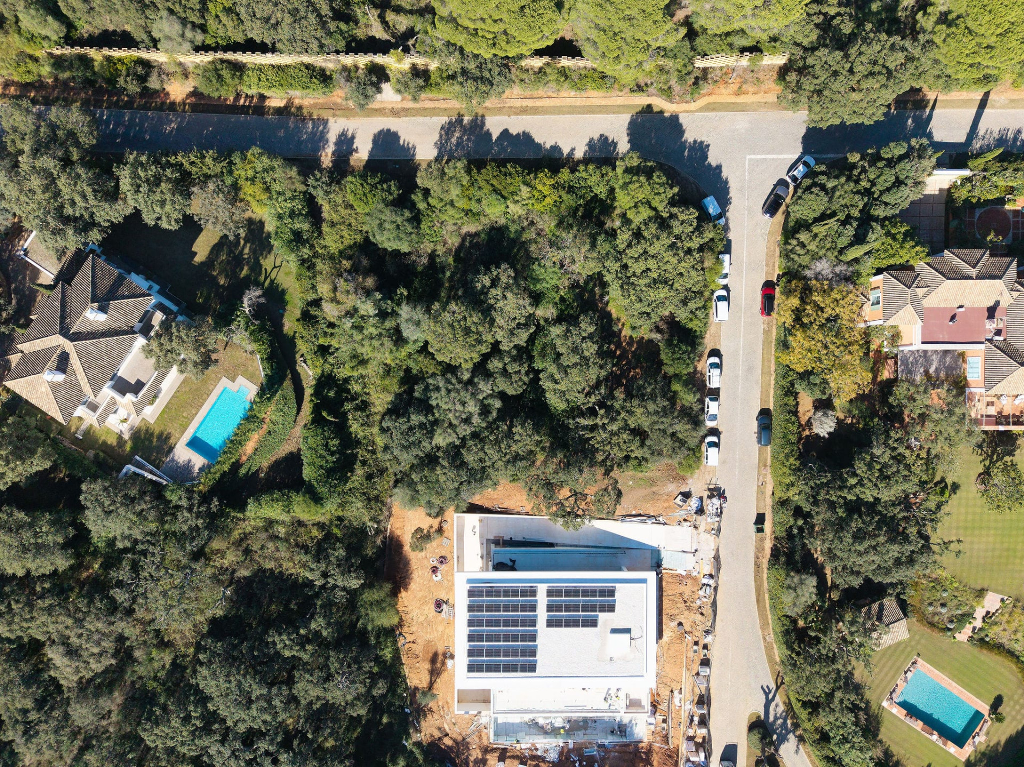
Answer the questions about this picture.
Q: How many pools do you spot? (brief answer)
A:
two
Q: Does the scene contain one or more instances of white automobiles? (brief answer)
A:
Yes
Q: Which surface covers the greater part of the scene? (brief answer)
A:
trees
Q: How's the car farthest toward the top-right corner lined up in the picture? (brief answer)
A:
at an angle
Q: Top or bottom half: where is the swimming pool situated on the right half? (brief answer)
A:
bottom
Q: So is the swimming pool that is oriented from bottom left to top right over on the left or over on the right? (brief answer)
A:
left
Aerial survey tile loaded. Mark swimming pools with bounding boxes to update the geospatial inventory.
[161,375,256,483]
[881,655,993,762]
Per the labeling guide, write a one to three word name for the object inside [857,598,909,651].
shed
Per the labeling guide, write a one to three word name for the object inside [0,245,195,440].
house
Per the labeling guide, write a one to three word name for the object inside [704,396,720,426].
car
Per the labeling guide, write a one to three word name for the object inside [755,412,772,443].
car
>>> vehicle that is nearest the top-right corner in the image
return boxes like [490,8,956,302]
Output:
[785,156,814,187]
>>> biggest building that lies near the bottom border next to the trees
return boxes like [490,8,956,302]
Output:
[456,511,693,742]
